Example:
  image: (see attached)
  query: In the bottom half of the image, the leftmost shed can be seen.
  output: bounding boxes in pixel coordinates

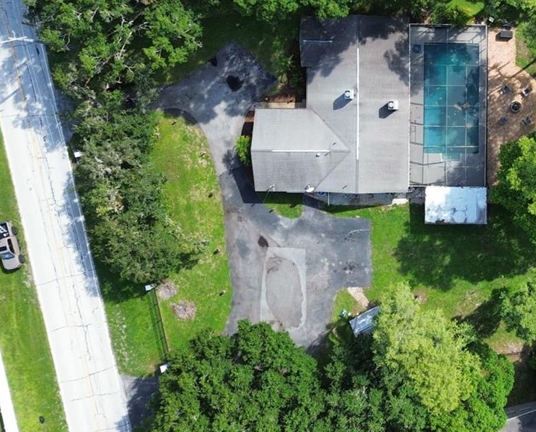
[349,308,376,338]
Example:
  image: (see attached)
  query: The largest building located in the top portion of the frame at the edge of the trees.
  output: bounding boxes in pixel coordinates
[250,13,411,198]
